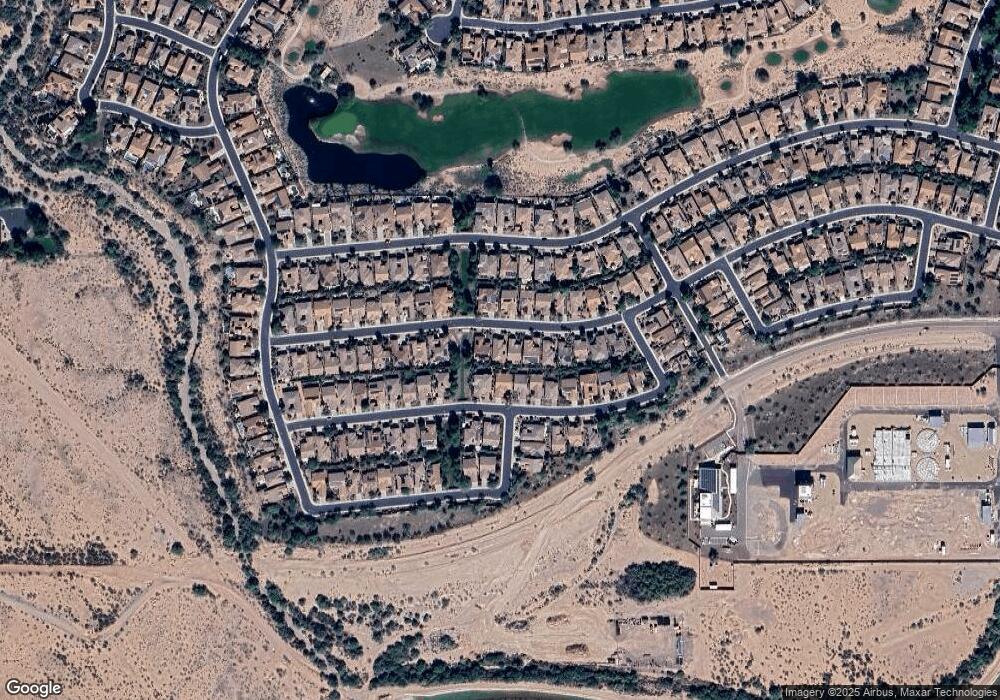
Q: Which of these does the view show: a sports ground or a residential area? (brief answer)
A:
residential area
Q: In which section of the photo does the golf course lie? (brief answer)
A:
top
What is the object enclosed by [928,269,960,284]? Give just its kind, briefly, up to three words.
house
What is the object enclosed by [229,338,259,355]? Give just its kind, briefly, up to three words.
house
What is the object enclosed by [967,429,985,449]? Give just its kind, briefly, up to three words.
shed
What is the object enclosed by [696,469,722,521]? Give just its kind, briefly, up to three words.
building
